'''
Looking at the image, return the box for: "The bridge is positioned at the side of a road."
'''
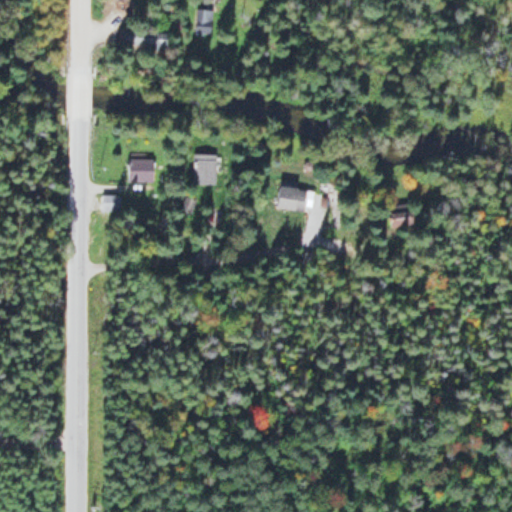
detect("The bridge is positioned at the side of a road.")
[62,66,96,124]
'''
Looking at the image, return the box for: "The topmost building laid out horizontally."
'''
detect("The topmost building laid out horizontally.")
[133,35,166,52]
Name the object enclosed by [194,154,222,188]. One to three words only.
house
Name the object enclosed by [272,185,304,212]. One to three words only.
house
